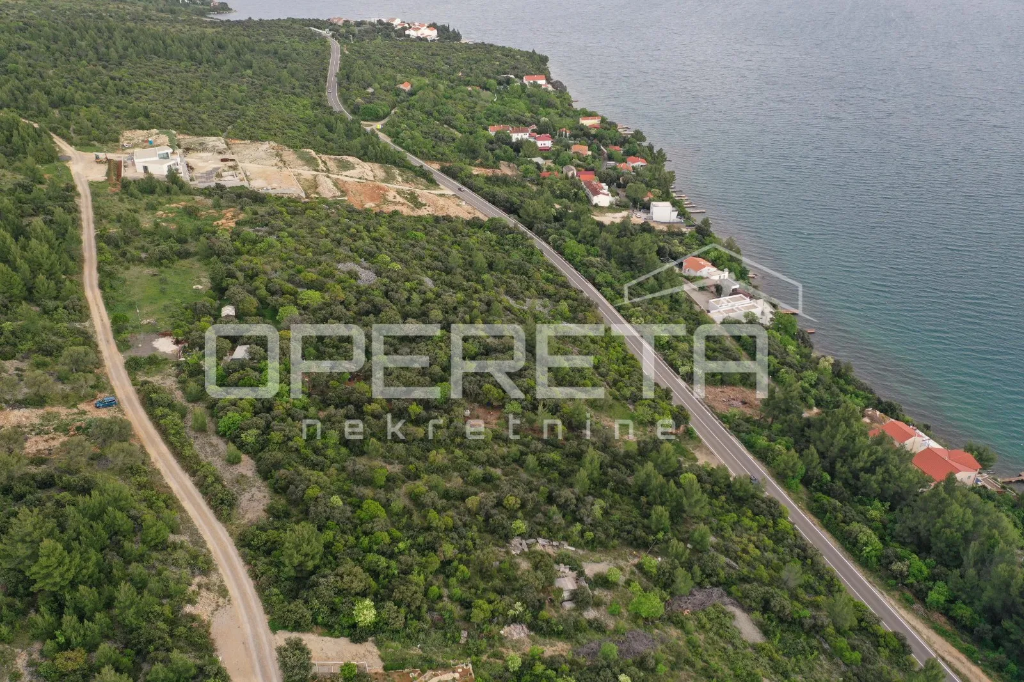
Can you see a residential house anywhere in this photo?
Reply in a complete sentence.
Yes, the photo shows a residential house.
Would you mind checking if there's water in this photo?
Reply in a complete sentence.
Yes, there is water in the image.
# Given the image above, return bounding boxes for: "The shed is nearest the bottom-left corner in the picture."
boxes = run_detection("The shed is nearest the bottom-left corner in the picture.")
[230,342,254,365]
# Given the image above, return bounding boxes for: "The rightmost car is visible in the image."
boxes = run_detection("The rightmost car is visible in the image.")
[745,476,762,492]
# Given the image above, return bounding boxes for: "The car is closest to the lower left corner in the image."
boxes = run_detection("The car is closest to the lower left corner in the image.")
[91,394,119,408]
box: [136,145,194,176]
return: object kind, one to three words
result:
house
